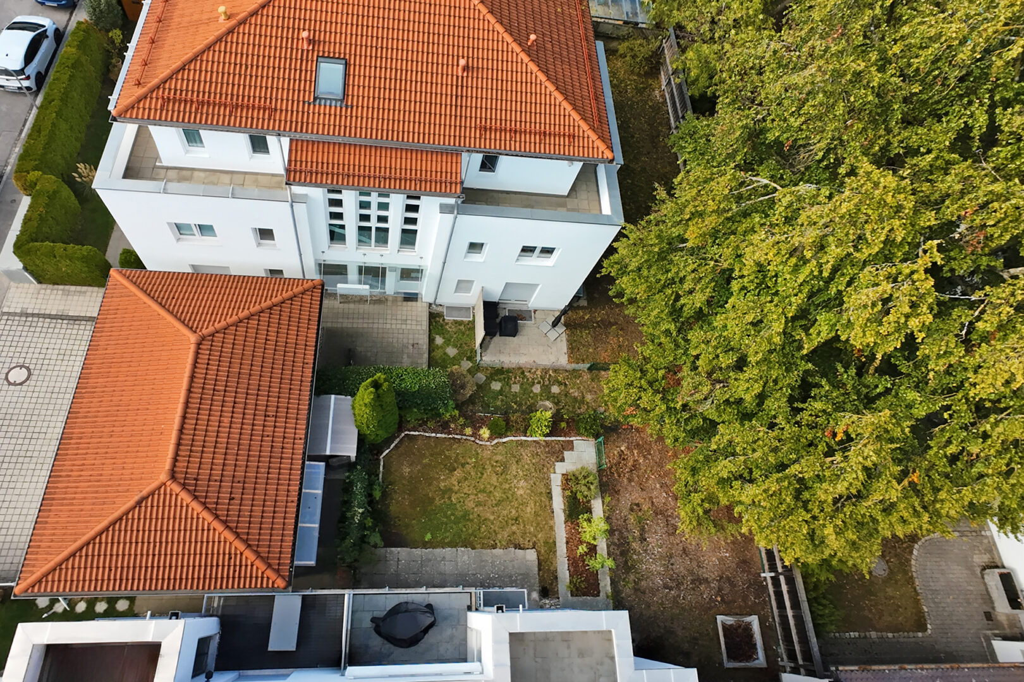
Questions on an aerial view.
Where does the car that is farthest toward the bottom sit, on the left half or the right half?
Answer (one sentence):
The car that is farthest toward the bottom is on the left side of the image.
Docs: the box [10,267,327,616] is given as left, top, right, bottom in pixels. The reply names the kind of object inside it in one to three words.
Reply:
building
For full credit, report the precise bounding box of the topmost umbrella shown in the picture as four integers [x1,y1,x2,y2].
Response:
[538,301,571,342]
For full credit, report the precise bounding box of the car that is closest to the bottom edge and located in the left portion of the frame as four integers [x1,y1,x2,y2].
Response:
[0,8,63,96]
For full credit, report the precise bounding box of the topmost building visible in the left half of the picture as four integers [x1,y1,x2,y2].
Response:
[95,0,622,313]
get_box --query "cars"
[30,0,84,9]
[0,8,63,96]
